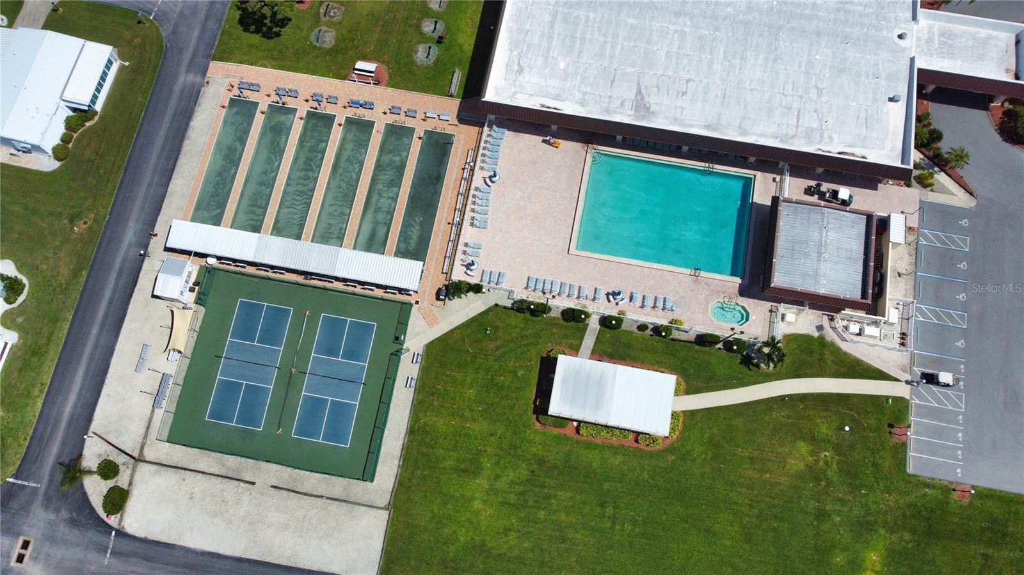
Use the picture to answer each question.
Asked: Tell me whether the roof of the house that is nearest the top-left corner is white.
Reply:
Yes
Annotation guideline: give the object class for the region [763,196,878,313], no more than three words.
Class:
building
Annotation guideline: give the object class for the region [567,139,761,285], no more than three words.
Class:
swimming pool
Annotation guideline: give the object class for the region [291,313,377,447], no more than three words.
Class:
sports court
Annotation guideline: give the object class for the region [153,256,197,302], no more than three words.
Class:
shed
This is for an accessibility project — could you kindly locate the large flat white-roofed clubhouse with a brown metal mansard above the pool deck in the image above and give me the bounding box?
[475,0,920,181]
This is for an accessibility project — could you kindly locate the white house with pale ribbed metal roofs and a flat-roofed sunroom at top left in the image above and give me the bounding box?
[0,23,129,154]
